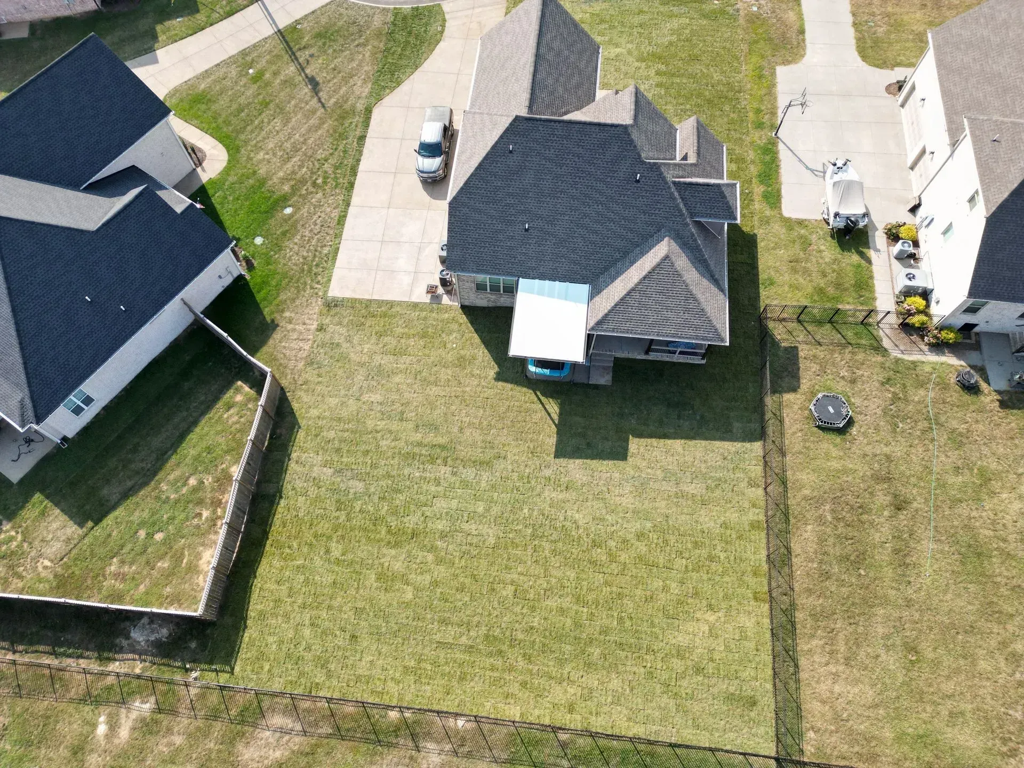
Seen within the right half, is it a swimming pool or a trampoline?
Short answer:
trampoline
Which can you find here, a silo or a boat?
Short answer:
boat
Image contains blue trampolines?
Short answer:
Yes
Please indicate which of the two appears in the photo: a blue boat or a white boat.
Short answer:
white boat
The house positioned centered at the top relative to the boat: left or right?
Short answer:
left of it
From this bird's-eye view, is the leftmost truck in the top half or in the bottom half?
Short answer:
top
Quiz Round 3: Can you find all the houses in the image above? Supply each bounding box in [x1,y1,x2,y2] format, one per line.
[894,0,1024,333]
[0,33,253,446]
[445,0,743,385]
[0,0,98,23]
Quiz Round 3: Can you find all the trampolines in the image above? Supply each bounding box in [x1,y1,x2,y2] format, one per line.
[533,361,570,380]
[806,393,852,432]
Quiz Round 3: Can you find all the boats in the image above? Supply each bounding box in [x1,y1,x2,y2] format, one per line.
[832,162,874,254]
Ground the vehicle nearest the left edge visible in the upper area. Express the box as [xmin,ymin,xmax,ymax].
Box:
[415,109,454,181]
